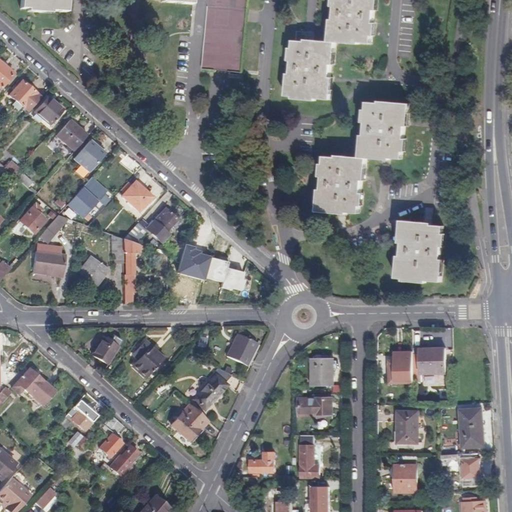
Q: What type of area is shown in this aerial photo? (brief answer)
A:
residential area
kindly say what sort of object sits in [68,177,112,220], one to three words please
house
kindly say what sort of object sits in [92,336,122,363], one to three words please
house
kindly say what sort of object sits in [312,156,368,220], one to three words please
building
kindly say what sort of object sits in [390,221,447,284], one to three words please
building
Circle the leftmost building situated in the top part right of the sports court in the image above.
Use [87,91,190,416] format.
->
[281,39,337,104]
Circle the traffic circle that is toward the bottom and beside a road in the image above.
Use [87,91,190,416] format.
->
[276,288,332,344]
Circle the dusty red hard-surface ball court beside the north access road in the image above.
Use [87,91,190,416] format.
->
[202,0,246,72]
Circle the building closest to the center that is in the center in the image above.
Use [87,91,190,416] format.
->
[179,245,246,290]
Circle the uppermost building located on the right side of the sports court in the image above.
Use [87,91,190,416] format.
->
[324,0,380,48]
